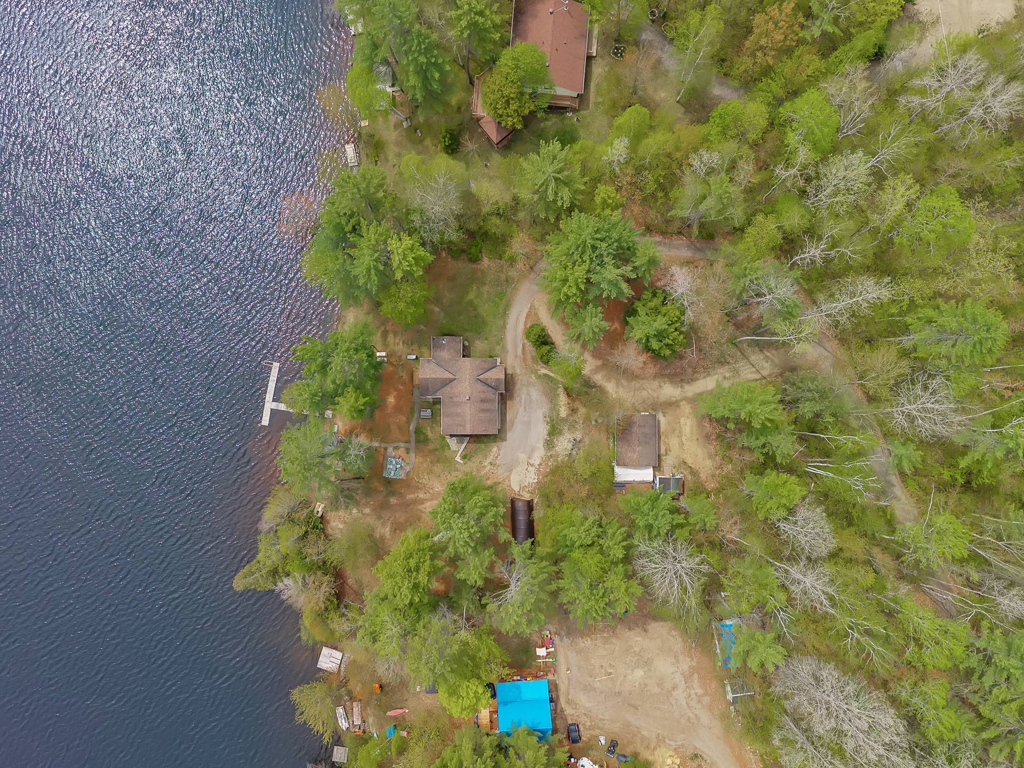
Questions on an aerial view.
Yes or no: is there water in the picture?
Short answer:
Yes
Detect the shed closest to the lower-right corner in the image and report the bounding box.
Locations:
[656,476,684,494]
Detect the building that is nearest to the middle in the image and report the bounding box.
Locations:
[412,336,505,440]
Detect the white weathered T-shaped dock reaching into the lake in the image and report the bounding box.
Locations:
[261,362,307,425]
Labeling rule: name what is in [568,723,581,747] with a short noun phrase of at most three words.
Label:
vehicle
